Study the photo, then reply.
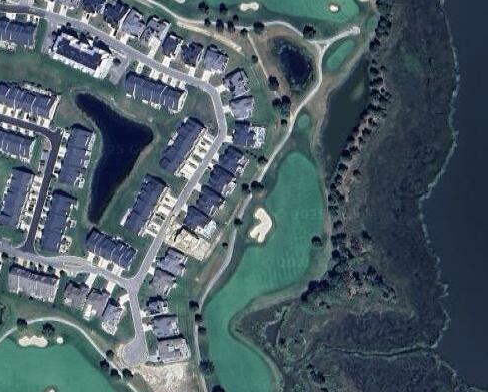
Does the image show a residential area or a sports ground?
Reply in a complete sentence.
The picture captures a residential area.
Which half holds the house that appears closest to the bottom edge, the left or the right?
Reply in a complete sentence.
It is on the left.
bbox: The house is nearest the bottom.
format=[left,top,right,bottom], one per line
[144,335,191,364]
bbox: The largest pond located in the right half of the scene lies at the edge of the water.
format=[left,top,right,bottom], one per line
[321,59,375,185]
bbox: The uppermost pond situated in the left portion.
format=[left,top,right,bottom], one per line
[74,92,154,225]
